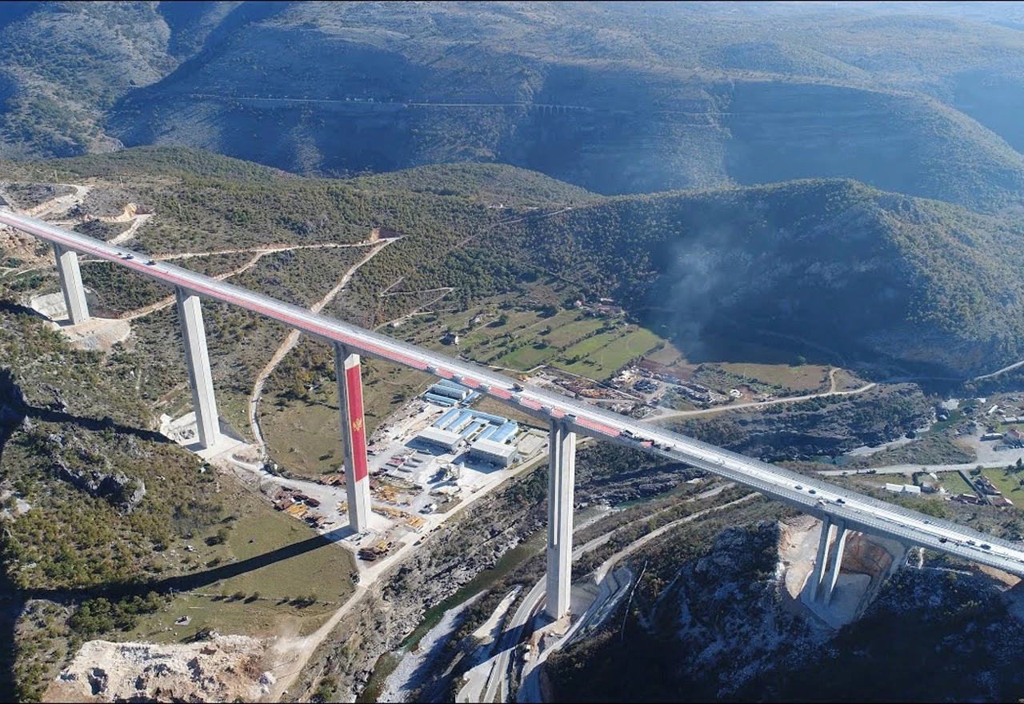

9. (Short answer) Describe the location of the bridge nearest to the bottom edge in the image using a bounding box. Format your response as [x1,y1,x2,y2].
[0,203,1024,621]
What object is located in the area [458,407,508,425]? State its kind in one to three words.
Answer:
building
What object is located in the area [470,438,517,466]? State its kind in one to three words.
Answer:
shed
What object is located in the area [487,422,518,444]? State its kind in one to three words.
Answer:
building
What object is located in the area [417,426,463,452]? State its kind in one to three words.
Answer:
shed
